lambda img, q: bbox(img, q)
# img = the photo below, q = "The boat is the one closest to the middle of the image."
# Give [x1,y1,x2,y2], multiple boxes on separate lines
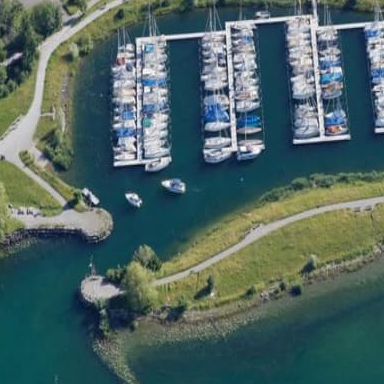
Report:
[161,179,187,193]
